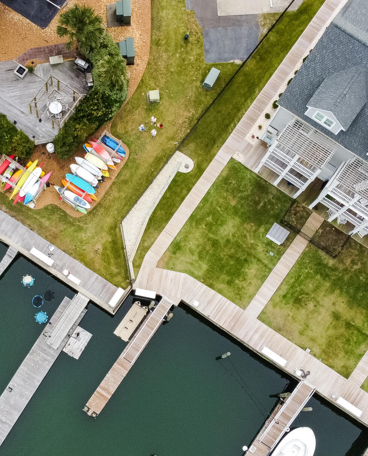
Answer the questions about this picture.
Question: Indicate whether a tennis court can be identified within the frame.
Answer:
No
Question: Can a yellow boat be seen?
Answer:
Yes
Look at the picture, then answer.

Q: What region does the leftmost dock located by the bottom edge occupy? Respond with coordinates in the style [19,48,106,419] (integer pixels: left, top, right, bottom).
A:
[0,297,87,446]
